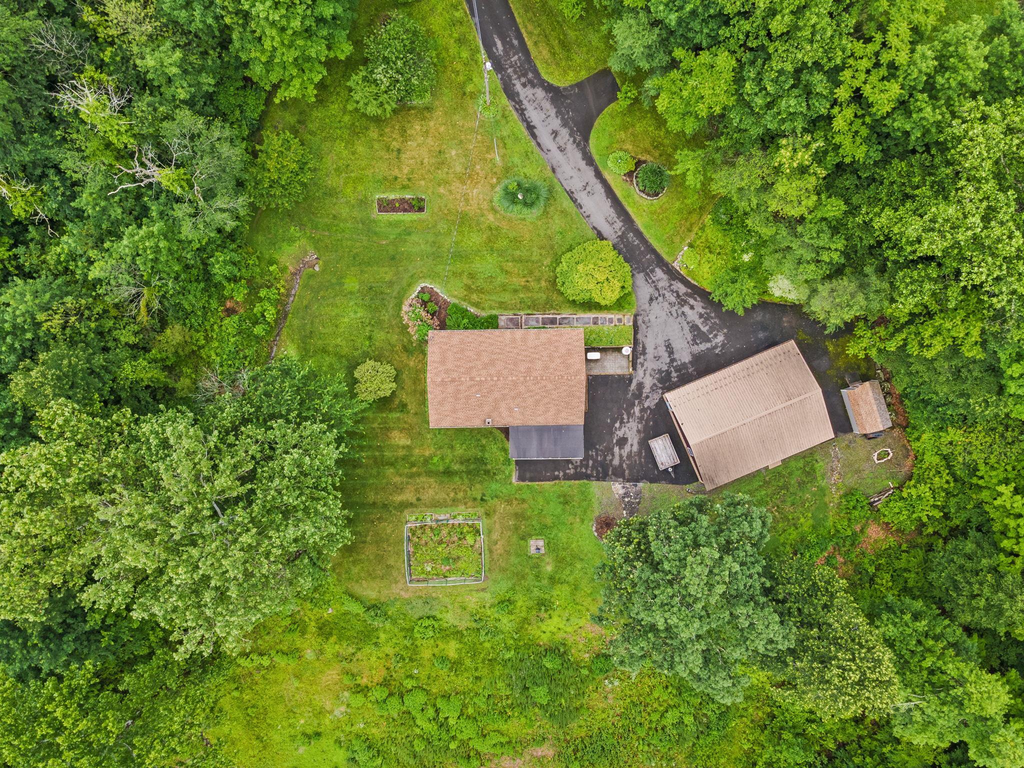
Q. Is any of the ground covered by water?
No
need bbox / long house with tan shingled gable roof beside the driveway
[427,327,589,460]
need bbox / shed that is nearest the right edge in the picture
[840,380,892,436]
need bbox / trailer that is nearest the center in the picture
[648,433,680,480]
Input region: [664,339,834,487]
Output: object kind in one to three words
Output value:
building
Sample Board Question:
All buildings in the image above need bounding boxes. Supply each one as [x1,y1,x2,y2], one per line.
[664,339,834,487]
[840,380,892,436]
[427,327,589,460]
